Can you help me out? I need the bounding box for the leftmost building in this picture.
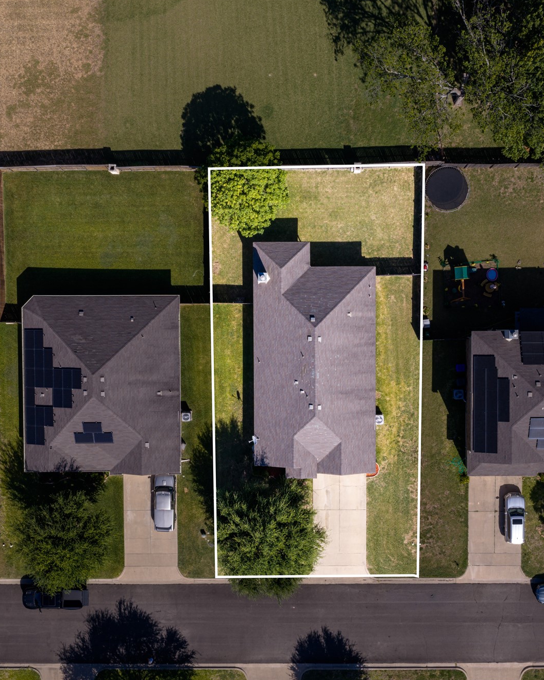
[22,294,182,476]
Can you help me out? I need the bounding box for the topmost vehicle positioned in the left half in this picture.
[153,475,177,533]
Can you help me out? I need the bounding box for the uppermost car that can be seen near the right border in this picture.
[501,490,527,541]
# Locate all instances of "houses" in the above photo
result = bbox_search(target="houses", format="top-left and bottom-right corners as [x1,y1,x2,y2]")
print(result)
[250,241,376,479]
[22,294,182,476]
[464,308,544,476]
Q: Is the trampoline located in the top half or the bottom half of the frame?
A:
top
